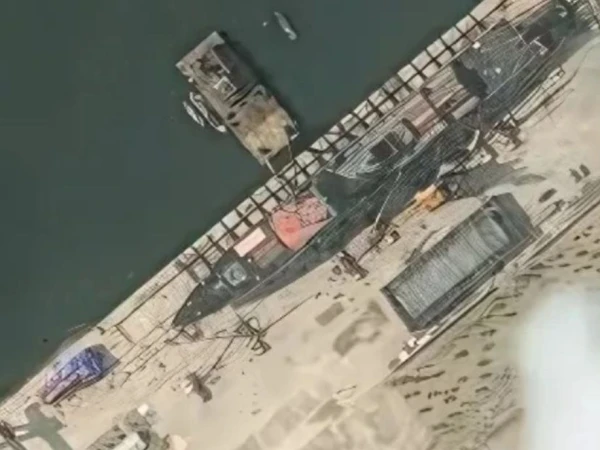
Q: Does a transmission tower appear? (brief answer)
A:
No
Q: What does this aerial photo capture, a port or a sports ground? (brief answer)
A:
port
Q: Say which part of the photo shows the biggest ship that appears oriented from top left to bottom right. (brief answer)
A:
top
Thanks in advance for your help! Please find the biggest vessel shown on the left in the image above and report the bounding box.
[176,32,297,164]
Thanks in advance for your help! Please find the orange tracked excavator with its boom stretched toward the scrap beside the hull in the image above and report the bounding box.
[384,179,448,228]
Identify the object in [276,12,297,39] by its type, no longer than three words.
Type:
boat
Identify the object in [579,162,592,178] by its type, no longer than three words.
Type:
vehicle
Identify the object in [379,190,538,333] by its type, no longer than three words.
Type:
shed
